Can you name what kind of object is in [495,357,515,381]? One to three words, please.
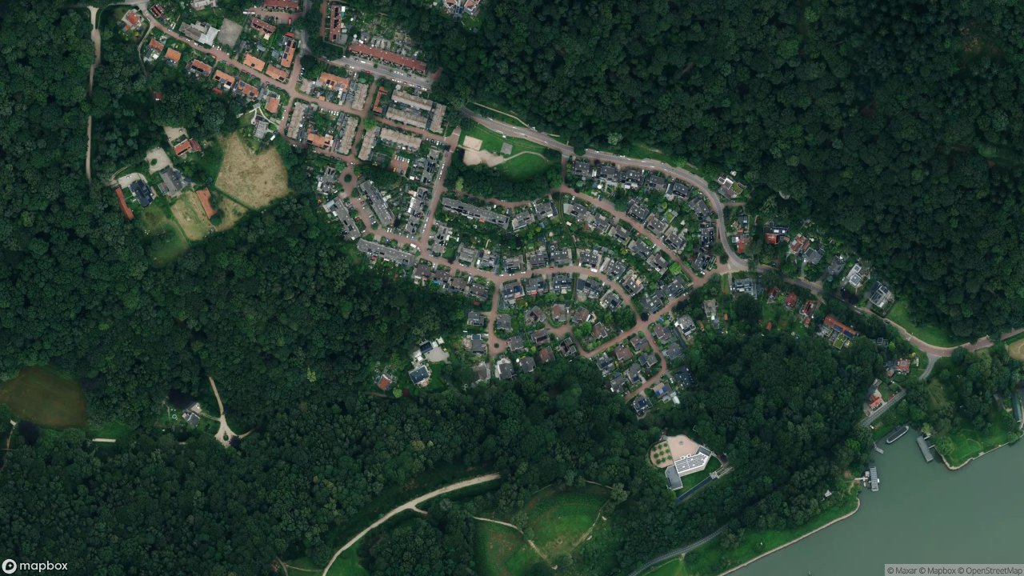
house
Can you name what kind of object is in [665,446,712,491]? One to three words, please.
building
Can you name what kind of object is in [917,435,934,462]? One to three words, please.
boat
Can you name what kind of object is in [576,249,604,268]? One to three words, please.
house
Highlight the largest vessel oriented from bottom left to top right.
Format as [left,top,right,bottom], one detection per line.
[886,425,910,443]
